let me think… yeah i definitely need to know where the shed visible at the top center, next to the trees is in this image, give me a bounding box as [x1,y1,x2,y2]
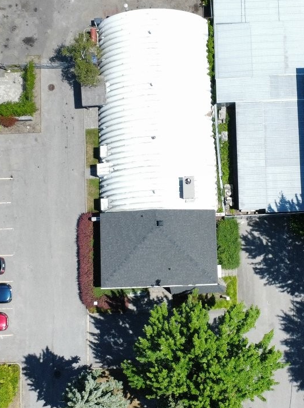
[82,3,219,212]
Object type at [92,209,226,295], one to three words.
house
